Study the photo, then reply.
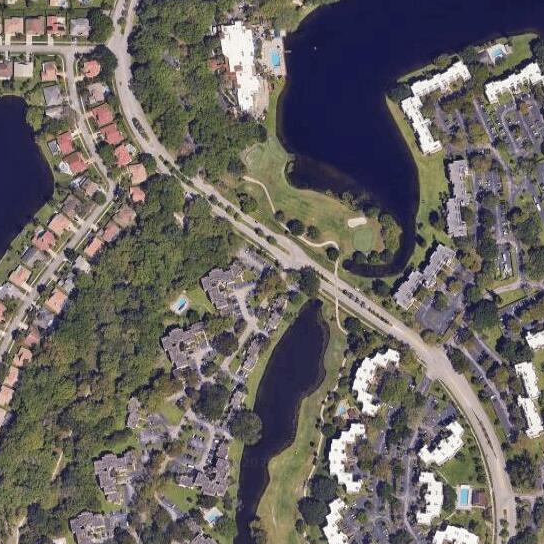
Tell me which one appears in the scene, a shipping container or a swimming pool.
swimming pool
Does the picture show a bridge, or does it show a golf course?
golf course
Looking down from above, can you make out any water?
Yes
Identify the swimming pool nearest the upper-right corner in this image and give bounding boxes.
[484,43,508,63]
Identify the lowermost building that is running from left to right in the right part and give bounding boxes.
[433,524,480,544]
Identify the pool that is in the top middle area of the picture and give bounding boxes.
[264,36,284,74]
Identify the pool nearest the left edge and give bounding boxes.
[170,295,188,314]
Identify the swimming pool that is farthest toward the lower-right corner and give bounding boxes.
[456,486,473,510]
